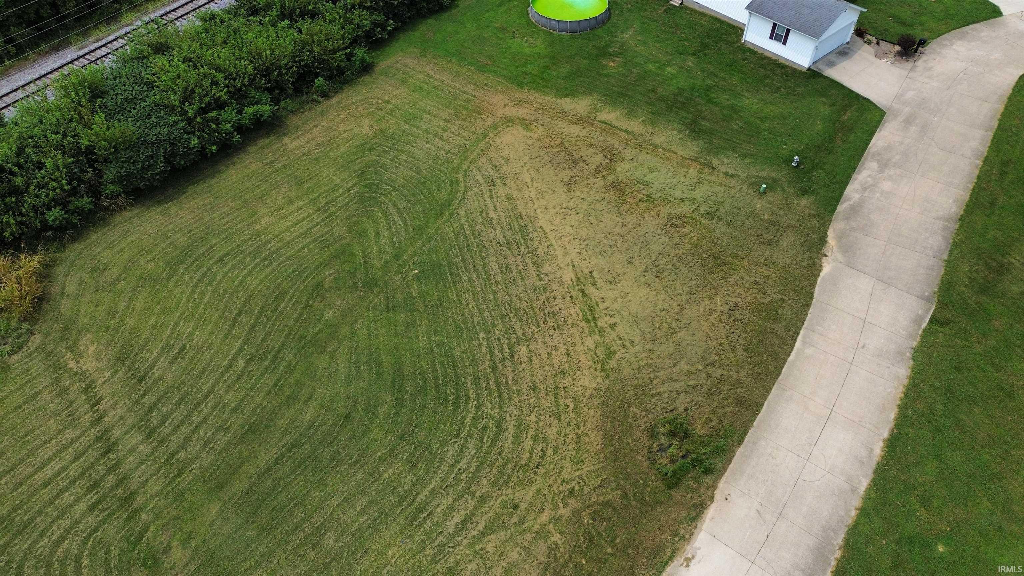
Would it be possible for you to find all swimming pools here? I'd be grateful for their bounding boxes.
[528,0,609,35]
